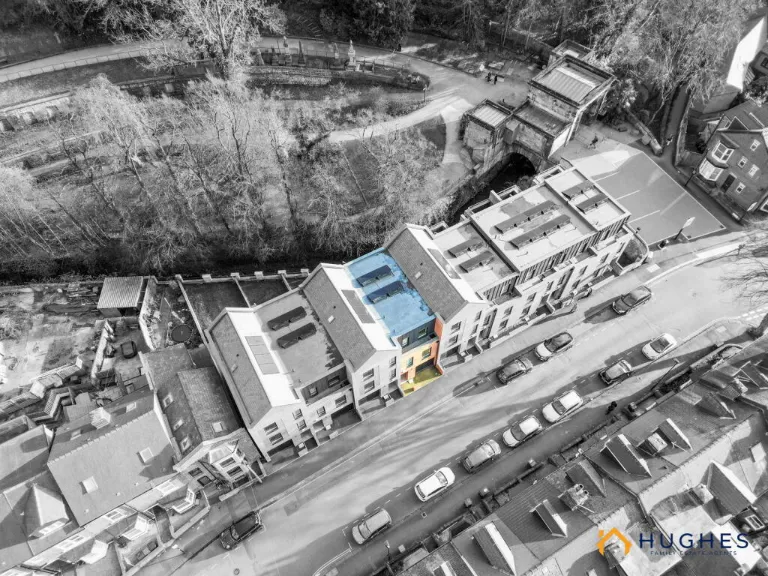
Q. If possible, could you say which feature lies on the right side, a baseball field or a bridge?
bridge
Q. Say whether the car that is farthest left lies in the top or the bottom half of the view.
bottom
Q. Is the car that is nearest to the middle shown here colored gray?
Yes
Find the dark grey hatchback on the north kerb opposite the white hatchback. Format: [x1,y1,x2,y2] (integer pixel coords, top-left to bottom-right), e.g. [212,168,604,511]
[496,356,535,385]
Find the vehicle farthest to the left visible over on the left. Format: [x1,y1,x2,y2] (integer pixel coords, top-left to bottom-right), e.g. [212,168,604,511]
[219,512,267,554]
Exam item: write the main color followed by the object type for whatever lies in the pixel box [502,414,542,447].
white car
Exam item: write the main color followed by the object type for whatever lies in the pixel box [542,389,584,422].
white car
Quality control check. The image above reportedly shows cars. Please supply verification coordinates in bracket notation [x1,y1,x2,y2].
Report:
[542,389,584,422]
[502,414,542,447]
[597,358,634,386]
[219,512,267,554]
[535,332,574,362]
[460,437,503,472]
[412,465,458,502]
[640,332,677,359]
[613,287,652,315]
[350,504,393,543]
[496,356,535,385]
